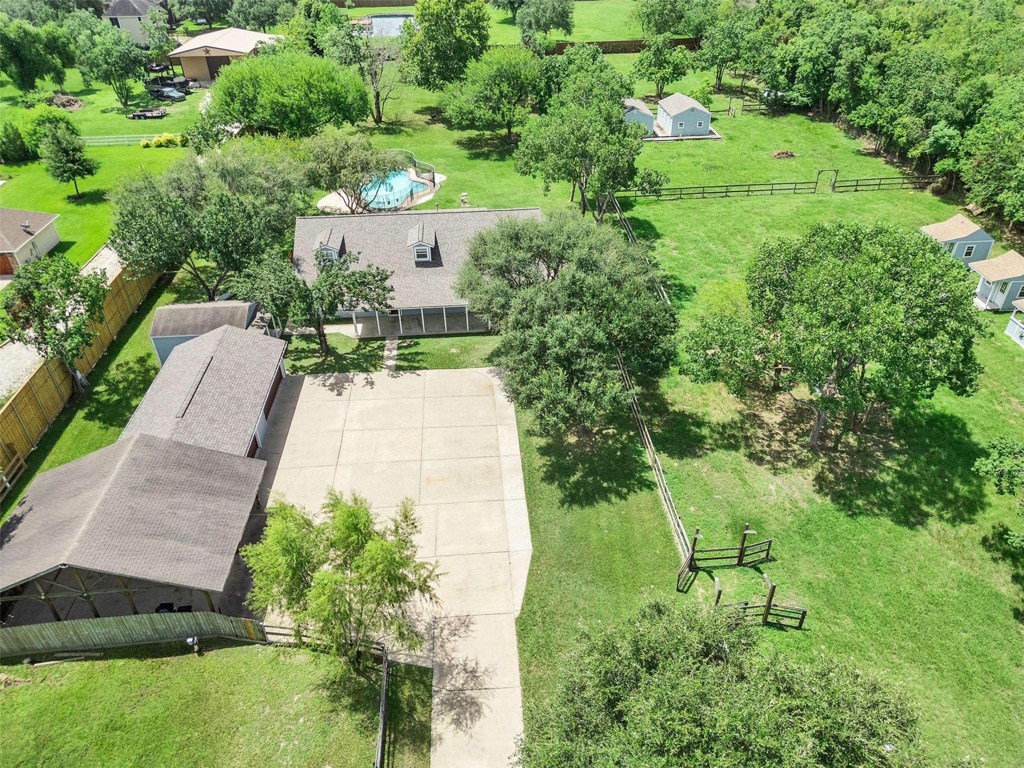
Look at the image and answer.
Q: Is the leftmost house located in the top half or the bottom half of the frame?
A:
top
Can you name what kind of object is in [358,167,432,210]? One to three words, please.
swimming pool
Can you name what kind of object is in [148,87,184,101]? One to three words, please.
vehicle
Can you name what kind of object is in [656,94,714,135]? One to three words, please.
shed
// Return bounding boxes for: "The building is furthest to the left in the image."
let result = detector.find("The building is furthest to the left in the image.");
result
[0,213,61,276]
